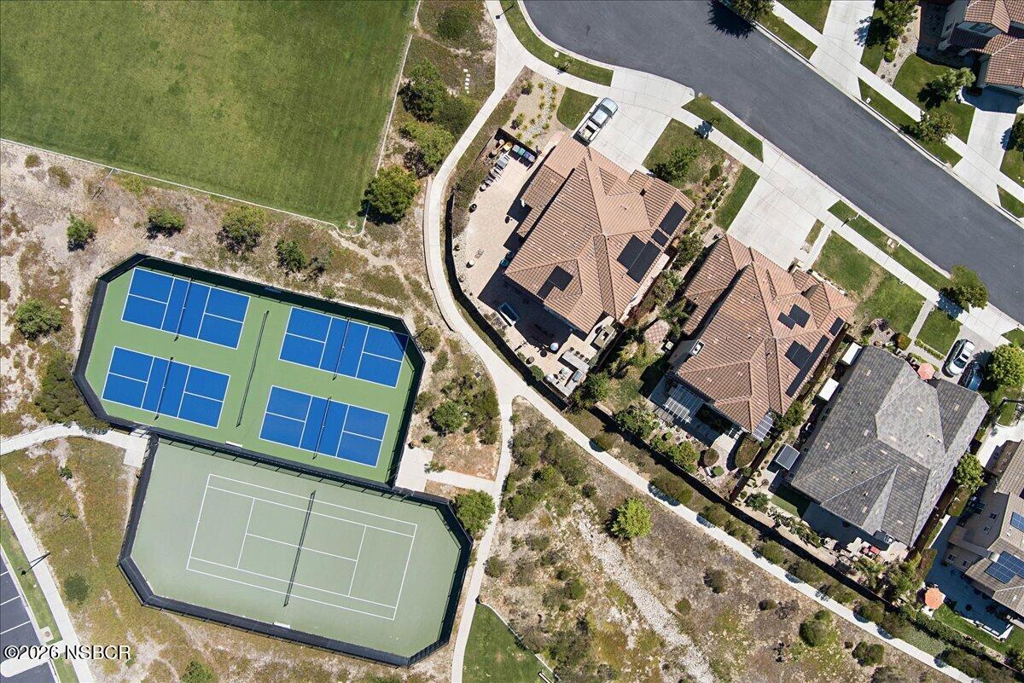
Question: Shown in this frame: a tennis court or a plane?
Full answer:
This aerial view contains a tennis court.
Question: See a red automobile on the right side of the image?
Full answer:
No, I see no red automobile on the right side of the image.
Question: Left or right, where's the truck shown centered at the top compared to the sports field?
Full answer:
Looking at the photo, the truck shown centered at the top lies to the right of the sports field.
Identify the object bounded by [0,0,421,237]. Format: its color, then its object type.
green sports field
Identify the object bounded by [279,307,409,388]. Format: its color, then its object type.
blue sports court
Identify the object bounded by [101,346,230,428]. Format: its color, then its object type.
blue sports court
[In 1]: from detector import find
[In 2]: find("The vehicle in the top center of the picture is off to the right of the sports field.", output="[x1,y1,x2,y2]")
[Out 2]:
[577,96,617,145]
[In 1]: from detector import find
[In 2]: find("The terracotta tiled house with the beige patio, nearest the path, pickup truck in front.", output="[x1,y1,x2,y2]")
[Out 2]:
[505,134,695,333]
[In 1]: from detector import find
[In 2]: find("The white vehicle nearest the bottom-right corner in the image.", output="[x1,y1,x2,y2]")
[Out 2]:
[943,334,980,378]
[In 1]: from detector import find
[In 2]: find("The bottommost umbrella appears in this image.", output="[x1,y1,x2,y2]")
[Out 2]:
[920,587,941,607]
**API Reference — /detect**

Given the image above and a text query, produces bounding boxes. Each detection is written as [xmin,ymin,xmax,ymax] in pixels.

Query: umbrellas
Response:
[913,362,933,380]
[920,587,941,607]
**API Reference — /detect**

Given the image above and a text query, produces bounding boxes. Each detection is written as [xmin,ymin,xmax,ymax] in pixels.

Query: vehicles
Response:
[943,334,980,378]
[956,354,992,391]
[577,96,617,145]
